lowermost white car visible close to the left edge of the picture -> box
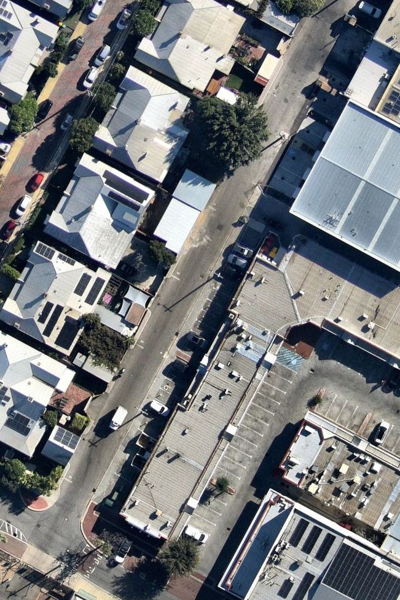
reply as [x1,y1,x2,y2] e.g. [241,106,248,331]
[14,194,32,218]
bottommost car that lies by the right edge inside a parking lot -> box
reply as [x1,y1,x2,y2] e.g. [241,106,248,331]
[373,421,391,444]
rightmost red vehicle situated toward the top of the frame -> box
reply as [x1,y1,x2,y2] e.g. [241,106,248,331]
[28,172,43,193]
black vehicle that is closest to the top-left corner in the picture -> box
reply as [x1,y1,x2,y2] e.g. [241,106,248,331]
[69,33,85,58]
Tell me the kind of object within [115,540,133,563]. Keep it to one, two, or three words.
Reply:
car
